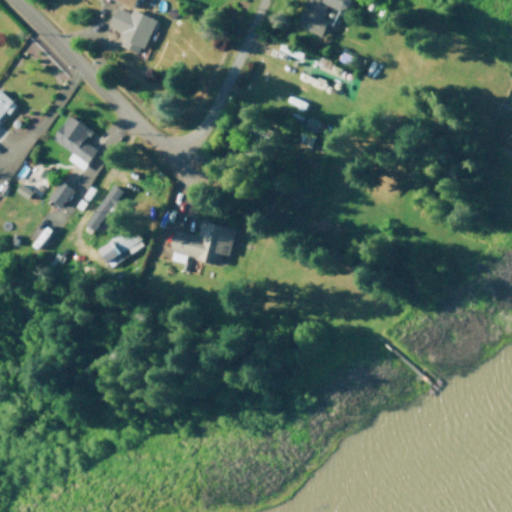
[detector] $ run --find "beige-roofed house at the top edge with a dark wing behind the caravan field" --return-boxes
[306,0,350,39]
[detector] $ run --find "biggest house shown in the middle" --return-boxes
[170,223,238,266]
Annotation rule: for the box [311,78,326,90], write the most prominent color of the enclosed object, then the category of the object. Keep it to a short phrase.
white vehicle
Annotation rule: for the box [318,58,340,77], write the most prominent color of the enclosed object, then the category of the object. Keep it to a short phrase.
white vehicle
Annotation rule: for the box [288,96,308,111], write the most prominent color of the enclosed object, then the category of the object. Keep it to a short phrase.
white camper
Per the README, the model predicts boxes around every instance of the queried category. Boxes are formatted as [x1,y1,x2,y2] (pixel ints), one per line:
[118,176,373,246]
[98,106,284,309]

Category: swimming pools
[18,164,30,179]
[158,0,168,13]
